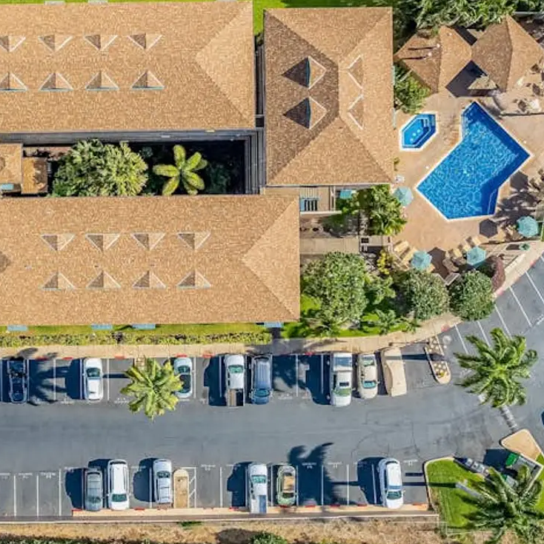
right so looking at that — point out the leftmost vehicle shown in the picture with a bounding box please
[7,358,29,403]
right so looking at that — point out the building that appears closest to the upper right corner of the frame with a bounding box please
[470,17,544,95]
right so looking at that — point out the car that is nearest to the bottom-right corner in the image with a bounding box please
[375,456,404,508]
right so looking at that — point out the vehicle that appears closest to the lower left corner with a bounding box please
[82,468,105,510]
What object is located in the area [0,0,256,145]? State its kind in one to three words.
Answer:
building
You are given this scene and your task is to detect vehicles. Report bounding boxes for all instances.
[82,468,105,510]
[222,354,247,406]
[328,351,354,406]
[355,353,380,398]
[245,461,270,514]
[7,358,29,403]
[172,356,194,397]
[81,356,104,399]
[375,456,404,508]
[152,458,174,503]
[274,464,299,507]
[249,355,273,404]
[106,457,132,509]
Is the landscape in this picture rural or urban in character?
urban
